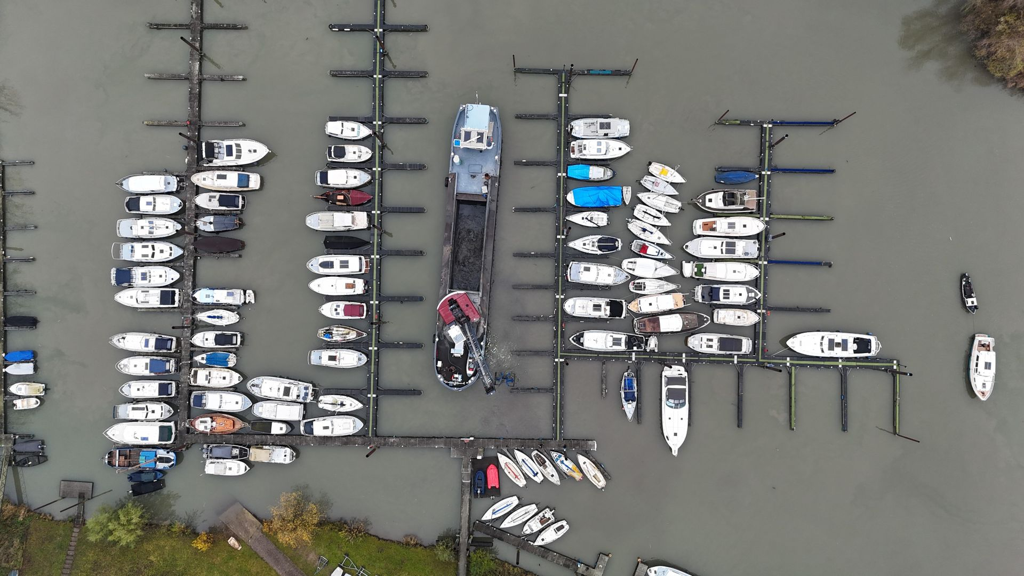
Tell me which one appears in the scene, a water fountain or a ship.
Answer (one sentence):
I can see a ship in this picture.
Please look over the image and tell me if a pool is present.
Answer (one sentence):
No, no pool is visible in the view.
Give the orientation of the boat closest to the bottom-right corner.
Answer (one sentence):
What the image shows is the boat closest to the bottom-right corner lying up and down.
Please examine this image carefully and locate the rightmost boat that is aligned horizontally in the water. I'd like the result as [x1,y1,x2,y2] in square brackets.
[786,330,886,360]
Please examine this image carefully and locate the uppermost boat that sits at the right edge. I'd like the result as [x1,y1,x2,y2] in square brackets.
[958,270,979,314]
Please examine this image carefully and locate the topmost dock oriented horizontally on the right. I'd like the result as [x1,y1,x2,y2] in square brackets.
[561,349,907,436]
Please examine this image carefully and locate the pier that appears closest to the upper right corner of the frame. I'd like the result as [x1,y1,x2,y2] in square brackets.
[711,113,836,353]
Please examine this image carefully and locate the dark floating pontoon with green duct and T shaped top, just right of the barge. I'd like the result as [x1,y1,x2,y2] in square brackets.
[510,61,631,438]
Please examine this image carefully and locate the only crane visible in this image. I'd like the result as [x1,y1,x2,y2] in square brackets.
[435,290,499,395]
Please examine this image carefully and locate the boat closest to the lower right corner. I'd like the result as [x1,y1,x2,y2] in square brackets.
[966,332,999,402]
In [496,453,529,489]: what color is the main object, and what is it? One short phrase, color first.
white boat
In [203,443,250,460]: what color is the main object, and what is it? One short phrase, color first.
gray boat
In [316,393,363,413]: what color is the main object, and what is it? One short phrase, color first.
white boat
